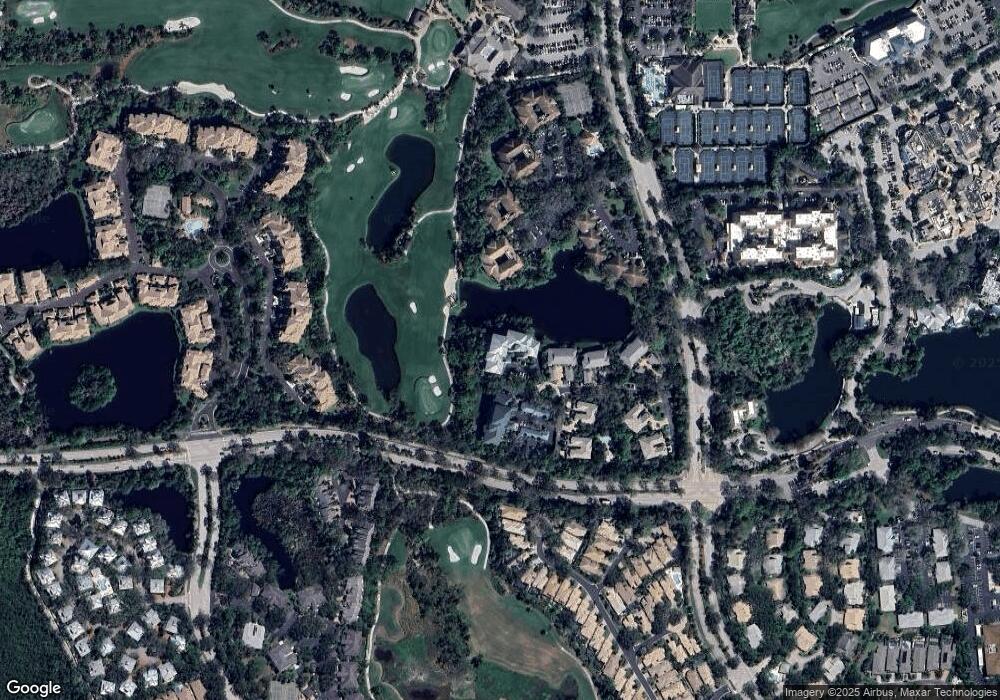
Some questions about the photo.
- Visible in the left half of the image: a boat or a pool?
pool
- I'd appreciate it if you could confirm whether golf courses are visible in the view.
Yes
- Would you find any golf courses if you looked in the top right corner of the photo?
Yes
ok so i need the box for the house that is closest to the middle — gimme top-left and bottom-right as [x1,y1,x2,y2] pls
[484,328,543,376]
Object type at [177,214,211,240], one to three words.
swimming pool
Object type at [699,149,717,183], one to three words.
tennis court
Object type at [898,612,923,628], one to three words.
house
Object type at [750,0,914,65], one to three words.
golf course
